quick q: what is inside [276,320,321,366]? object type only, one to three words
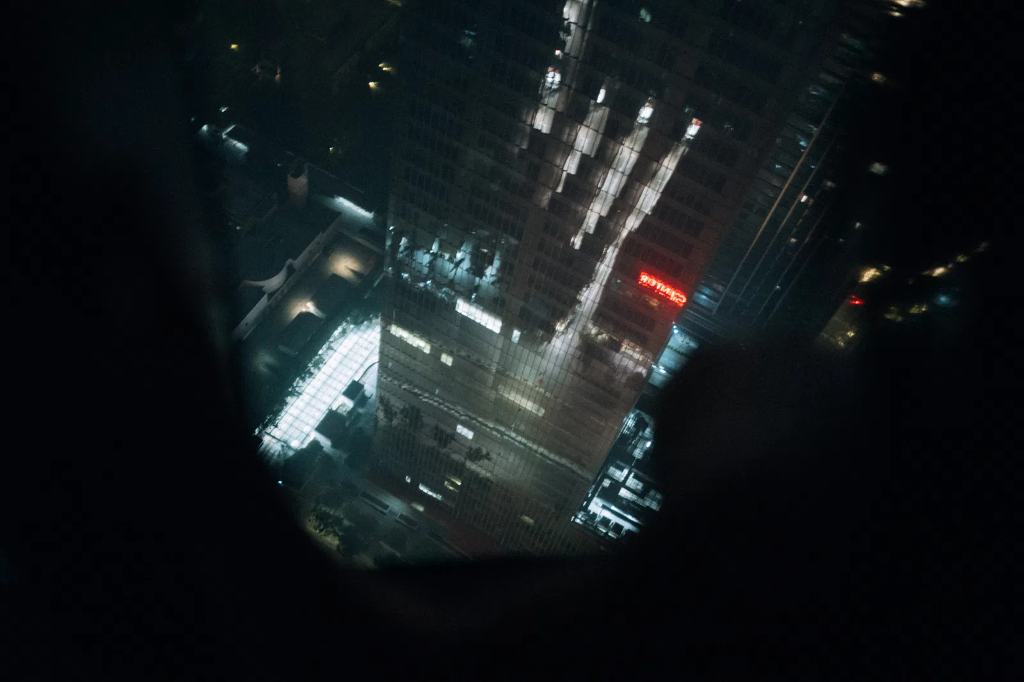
building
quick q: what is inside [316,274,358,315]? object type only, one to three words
building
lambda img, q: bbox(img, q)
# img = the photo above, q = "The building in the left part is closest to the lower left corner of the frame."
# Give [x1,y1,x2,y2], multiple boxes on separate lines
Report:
[316,409,348,447]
